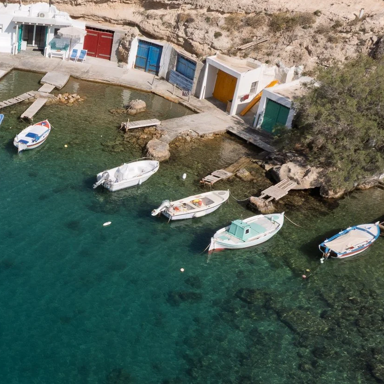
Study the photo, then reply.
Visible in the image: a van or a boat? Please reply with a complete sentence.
Visible in the photo is a boat.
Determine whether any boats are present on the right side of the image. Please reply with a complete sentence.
Yes, on the right side of the image there is a boat.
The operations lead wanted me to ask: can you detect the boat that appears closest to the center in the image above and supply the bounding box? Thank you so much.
[151,186,229,225]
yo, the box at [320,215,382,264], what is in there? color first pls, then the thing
white boat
